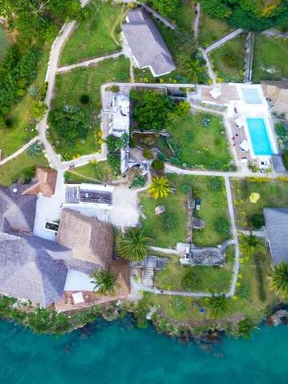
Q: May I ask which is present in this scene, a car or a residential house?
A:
residential house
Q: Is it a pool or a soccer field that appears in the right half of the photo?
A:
pool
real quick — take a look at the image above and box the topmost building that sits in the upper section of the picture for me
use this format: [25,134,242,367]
[118,8,176,78]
